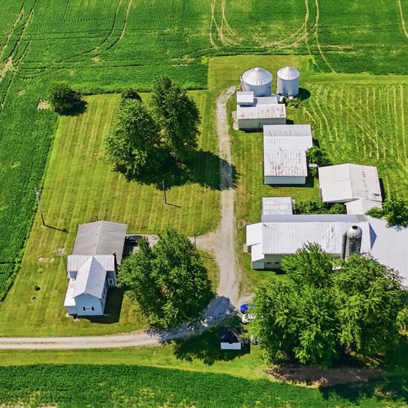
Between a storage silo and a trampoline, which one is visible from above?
storage silo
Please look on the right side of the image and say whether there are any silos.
Yes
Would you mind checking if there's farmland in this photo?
Yes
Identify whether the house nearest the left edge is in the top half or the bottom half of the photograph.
bottom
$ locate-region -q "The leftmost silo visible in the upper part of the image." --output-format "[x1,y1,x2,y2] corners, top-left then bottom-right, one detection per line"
[242,68,274,97]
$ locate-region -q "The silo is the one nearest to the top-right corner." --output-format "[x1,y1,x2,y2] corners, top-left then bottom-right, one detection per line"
[276,66,300,96]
